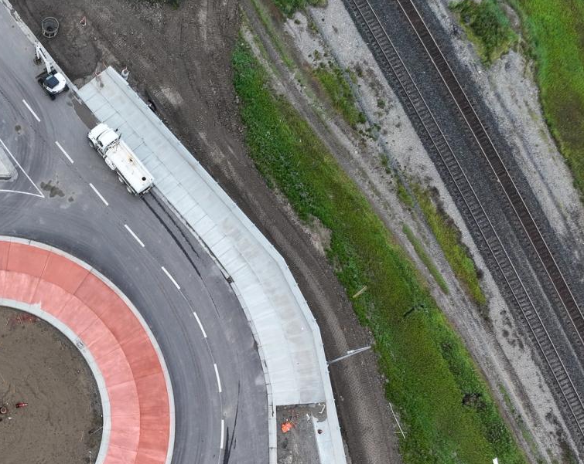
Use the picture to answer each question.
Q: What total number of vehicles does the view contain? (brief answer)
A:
2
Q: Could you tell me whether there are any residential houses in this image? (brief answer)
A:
No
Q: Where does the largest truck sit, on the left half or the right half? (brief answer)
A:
left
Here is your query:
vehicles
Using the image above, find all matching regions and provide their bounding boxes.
[36,40,70,102]
[87,126,153,200]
